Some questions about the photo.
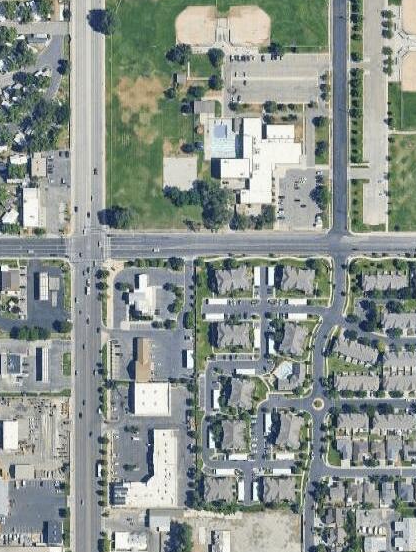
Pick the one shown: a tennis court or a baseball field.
baseball field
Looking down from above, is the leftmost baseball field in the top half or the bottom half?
top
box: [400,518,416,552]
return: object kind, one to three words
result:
building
